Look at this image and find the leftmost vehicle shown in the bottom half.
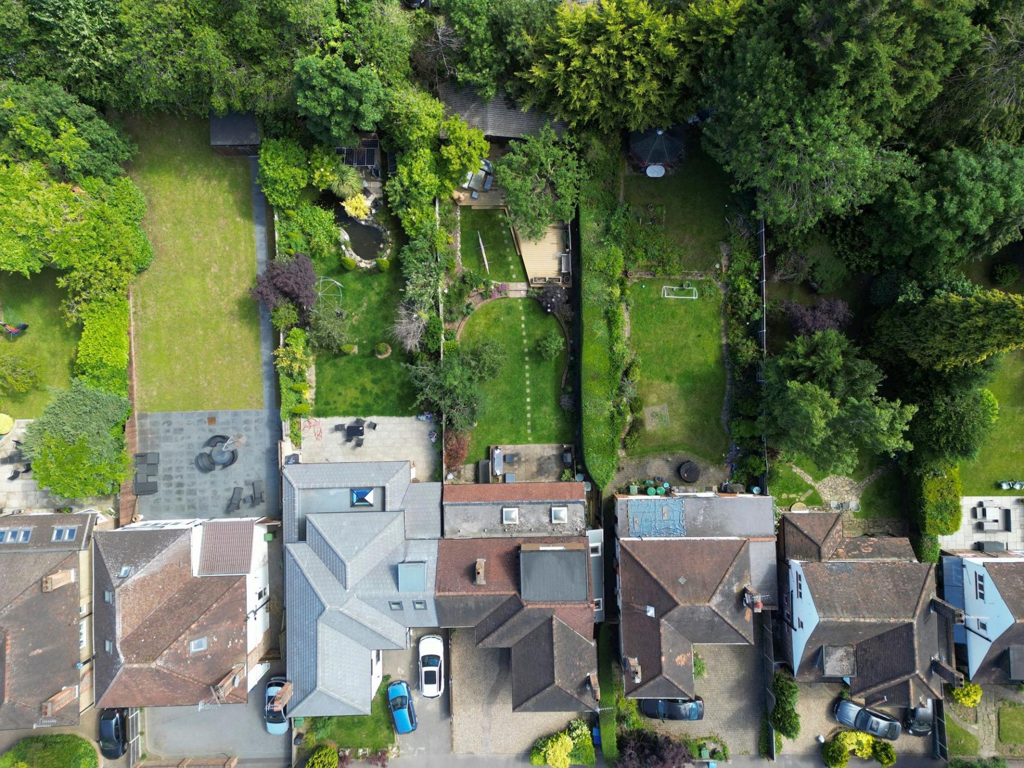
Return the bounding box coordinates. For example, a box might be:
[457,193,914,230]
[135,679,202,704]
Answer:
[91,707,124,766]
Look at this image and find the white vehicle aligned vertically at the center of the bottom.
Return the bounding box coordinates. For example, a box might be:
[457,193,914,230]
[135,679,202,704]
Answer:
[414,636,445,704]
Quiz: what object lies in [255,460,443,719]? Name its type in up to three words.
house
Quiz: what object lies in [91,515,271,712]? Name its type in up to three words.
house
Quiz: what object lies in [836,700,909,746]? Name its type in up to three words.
car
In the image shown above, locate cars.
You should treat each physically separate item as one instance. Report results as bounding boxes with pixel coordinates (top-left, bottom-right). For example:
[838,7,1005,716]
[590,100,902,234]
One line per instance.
[836,700,909,746]
[387,682,417,740]
[642,696,707,729]
[91,707,124,766]
[414,636,445,704]
[259,679,289,739]
[907,699,940,747]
